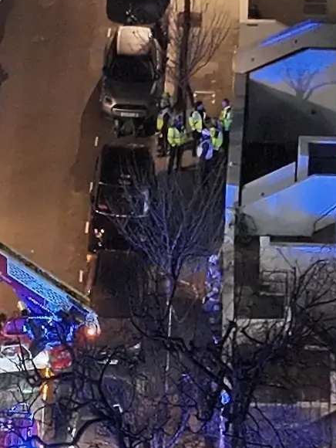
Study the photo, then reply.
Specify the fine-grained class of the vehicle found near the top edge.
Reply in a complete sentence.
In the photo, the vehicle found near the top edge shows up as a car.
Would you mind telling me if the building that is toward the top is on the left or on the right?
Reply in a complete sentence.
The building that is toward the top is on the right side of the image.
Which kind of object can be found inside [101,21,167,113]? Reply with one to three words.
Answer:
car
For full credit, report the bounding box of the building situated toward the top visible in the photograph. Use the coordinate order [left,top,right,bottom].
[294,135,336,172]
